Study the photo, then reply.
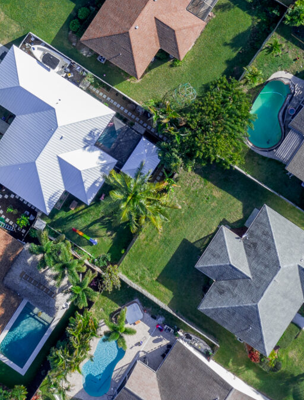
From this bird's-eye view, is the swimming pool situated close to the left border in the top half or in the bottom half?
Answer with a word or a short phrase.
bottom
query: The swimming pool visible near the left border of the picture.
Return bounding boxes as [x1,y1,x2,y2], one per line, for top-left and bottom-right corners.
[0,297,65,380]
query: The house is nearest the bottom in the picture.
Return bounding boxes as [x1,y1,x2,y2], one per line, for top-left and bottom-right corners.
[113,335,256,400]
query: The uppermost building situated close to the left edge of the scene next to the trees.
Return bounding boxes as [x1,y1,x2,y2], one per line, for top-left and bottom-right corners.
[0,45,118,215]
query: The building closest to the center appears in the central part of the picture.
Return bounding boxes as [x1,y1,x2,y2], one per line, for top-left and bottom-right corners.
[121,136,160,184]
